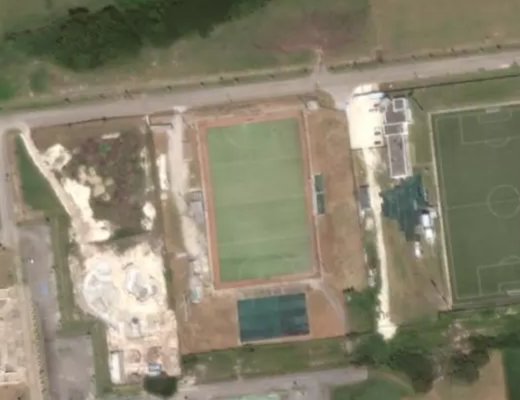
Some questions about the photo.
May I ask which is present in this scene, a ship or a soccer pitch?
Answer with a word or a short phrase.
soccer pitch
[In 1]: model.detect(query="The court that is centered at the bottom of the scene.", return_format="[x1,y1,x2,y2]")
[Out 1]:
[238,292,309,343]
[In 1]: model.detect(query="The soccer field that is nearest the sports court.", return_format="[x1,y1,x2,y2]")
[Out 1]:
[199,110,318,289]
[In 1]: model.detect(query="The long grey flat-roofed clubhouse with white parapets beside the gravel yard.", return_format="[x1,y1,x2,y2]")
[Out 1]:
[384,96,413,178]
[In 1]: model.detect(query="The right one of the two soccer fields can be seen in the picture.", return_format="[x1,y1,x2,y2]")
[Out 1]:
[432,104,520,305]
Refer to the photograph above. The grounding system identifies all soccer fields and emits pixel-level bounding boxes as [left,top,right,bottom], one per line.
[432,104,520,305]
[199,110,318,289]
